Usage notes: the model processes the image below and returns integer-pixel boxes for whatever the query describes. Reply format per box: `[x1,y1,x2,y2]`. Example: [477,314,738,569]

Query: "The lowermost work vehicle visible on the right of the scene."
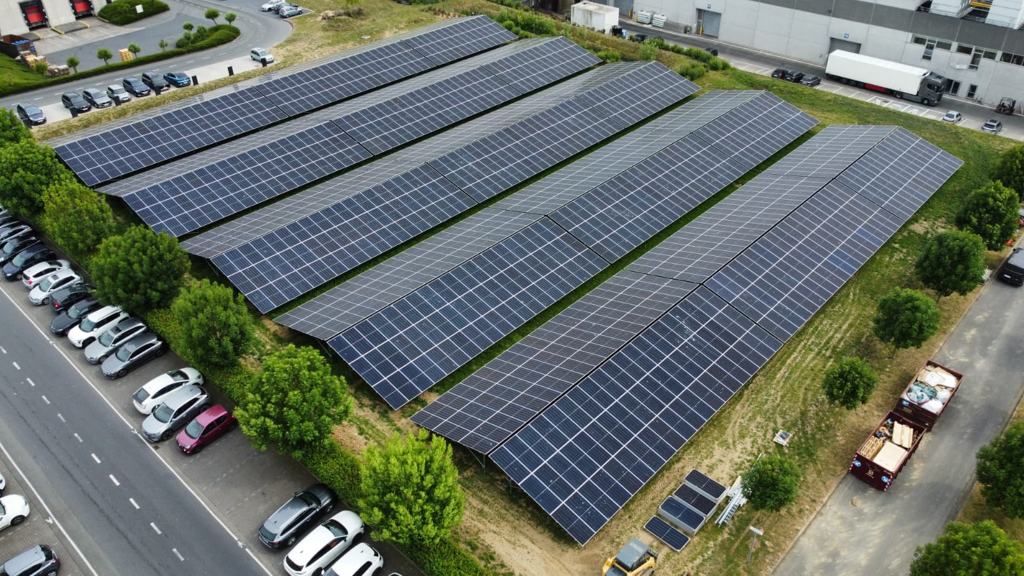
[601,538,662,576]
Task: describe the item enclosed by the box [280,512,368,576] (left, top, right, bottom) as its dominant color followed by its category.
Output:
white car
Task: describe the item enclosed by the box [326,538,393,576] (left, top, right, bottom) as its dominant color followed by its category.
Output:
white car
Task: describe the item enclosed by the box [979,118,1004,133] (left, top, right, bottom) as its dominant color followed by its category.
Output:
gray car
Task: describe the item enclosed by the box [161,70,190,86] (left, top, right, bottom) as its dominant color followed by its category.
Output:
blue car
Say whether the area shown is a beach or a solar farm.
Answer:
solar farm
